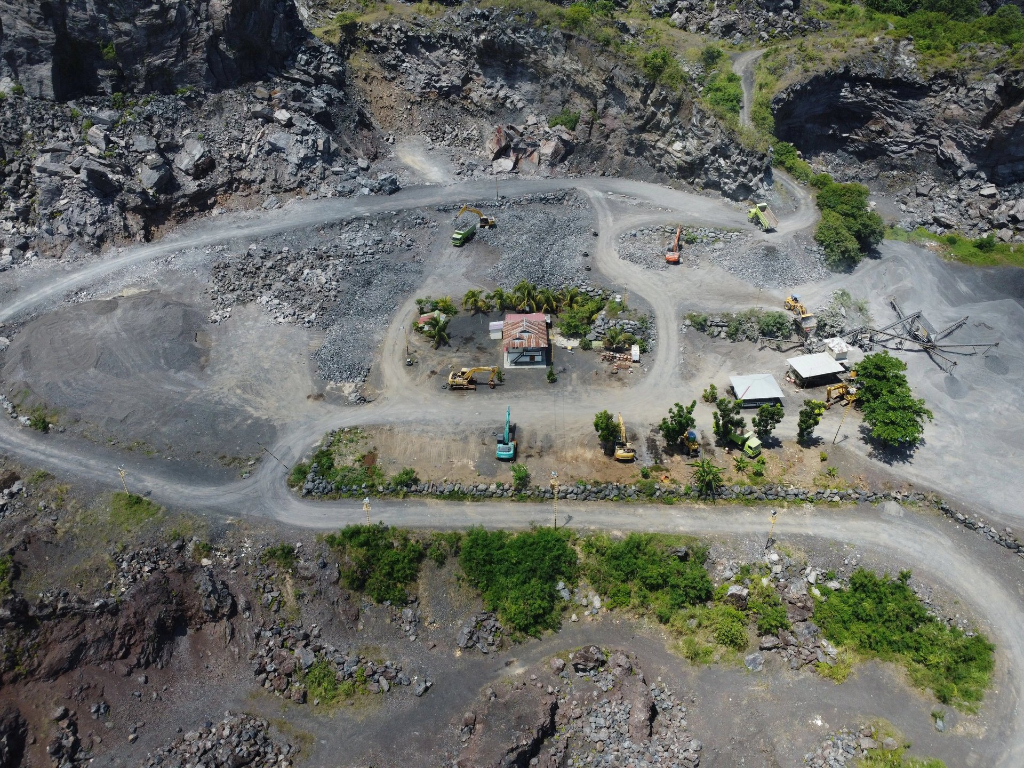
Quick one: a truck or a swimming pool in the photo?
truck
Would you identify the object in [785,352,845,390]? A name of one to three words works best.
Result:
shed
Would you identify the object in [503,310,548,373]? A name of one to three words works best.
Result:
house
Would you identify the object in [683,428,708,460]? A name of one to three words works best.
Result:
work vehicle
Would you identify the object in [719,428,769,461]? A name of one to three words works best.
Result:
truck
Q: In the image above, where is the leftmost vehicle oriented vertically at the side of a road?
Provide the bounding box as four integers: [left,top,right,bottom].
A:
[496,399,516,461]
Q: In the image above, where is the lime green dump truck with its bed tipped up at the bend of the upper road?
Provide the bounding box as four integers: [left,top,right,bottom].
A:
[744,201,782,234]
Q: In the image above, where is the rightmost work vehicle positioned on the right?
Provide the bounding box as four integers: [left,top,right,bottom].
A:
[820,379,865,406]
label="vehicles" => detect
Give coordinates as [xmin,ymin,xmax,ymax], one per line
[613,428,639,464]
[496,399,516,461]
[719,428,769,461]
[820,379,865,406]
[455,201,497,227]
[683,428,708,460]
[777,294,817,318]
[452,217,479,247]
[447,363,498,393]
[666,216,681,262]
[744,201,782,234]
